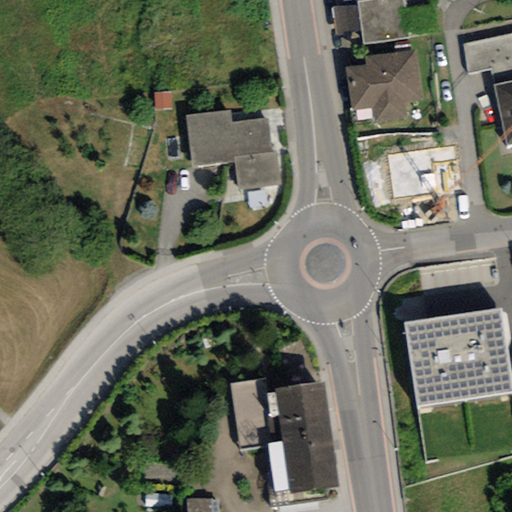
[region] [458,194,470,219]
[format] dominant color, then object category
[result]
white vehicle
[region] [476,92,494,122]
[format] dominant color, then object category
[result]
white vehicle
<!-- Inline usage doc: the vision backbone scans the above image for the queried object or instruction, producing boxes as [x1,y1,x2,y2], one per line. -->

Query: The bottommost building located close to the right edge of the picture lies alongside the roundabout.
[405,308,512,408]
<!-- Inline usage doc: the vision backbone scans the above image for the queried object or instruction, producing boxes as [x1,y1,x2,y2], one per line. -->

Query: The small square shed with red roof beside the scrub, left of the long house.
[154,92,172,110]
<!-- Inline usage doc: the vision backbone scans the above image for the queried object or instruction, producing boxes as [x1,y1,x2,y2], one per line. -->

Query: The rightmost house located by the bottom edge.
[267,382,339,508]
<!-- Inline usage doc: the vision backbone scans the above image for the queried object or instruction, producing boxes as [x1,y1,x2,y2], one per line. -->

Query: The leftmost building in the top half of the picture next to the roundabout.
[186,110,281,190]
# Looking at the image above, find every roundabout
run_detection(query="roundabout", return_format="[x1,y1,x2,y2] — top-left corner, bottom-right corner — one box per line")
[264,203,382,325]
